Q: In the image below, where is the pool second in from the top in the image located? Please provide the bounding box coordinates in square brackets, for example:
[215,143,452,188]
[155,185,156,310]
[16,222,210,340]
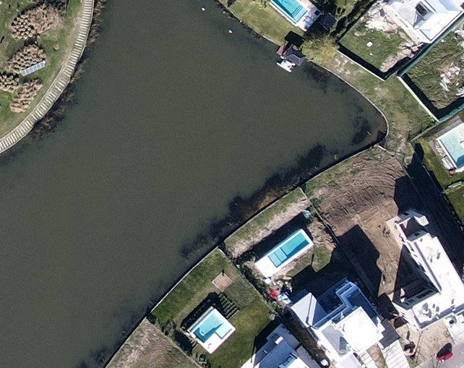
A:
[428,116,464,173]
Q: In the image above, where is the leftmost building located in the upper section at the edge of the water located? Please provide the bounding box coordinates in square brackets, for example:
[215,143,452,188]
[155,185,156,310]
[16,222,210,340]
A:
[277,45,307,67]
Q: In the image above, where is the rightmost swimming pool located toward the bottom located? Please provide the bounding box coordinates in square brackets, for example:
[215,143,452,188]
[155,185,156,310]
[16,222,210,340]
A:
[254,229,313,278]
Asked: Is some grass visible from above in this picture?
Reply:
Yes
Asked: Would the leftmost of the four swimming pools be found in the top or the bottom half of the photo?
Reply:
bottom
